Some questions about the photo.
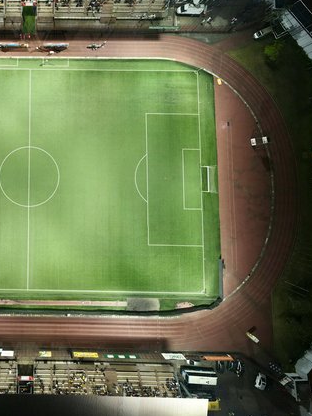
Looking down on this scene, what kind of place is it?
sports ground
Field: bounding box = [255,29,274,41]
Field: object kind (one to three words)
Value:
vehicle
